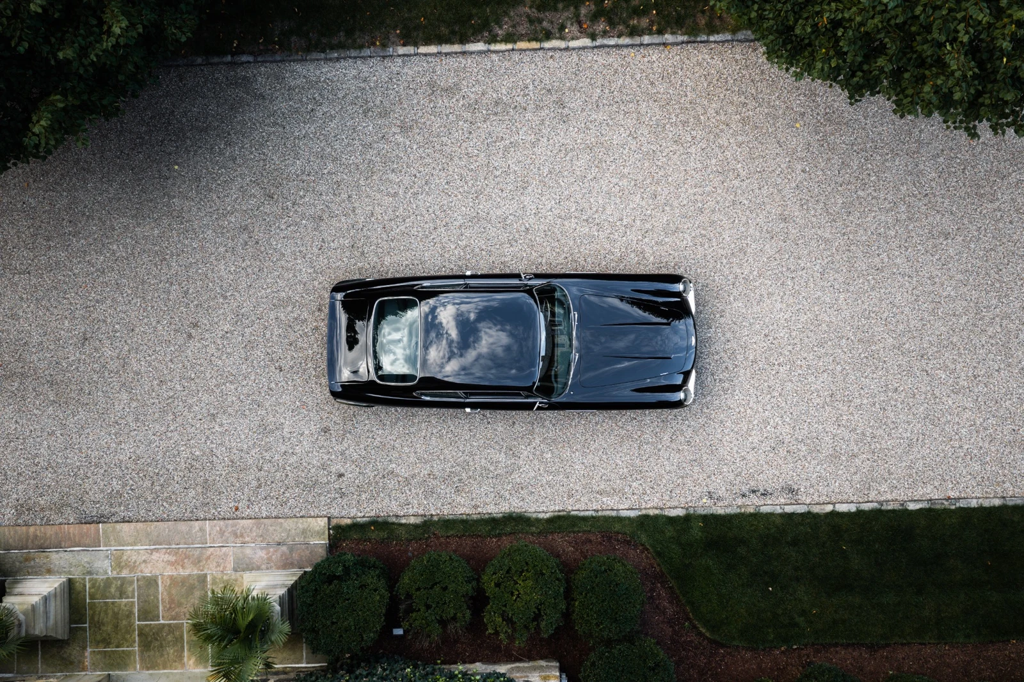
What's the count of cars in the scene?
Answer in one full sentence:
The photo contains exactly 1 car.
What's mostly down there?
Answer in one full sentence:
The largest share of the image is taken up by paved ground.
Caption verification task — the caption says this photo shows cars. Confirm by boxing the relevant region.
[328,269,698,414]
